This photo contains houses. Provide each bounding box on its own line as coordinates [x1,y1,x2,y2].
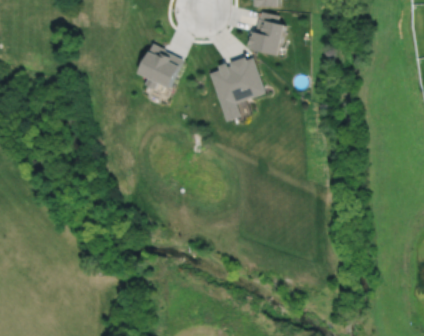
[212,56,266,122]
[255,0,281,8]
[138,44,182,88]
[246,10,288,57]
